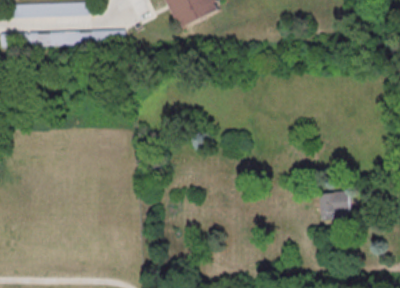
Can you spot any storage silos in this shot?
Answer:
No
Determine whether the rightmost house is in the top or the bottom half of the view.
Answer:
bottom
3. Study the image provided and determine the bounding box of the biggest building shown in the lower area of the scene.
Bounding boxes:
[320,191,352,224]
